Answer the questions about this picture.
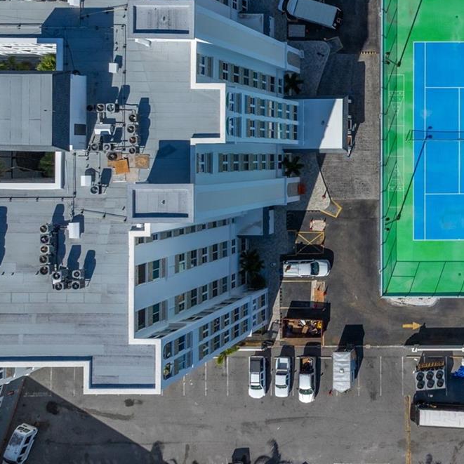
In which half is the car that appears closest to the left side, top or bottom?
bottom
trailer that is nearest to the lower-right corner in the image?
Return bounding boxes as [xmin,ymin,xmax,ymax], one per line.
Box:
[409,398,464,429]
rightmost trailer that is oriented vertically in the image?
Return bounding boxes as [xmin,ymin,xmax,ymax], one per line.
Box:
[333,347,355,393]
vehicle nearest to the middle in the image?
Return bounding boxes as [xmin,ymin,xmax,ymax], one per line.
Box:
[283,260,331,279]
